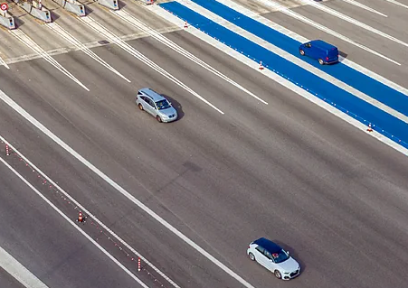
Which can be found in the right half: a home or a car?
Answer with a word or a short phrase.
car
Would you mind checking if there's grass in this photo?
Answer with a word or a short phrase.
No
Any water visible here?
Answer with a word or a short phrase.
No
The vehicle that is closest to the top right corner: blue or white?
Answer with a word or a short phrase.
blue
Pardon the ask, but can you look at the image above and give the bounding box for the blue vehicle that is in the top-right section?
[299,34,342,60]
